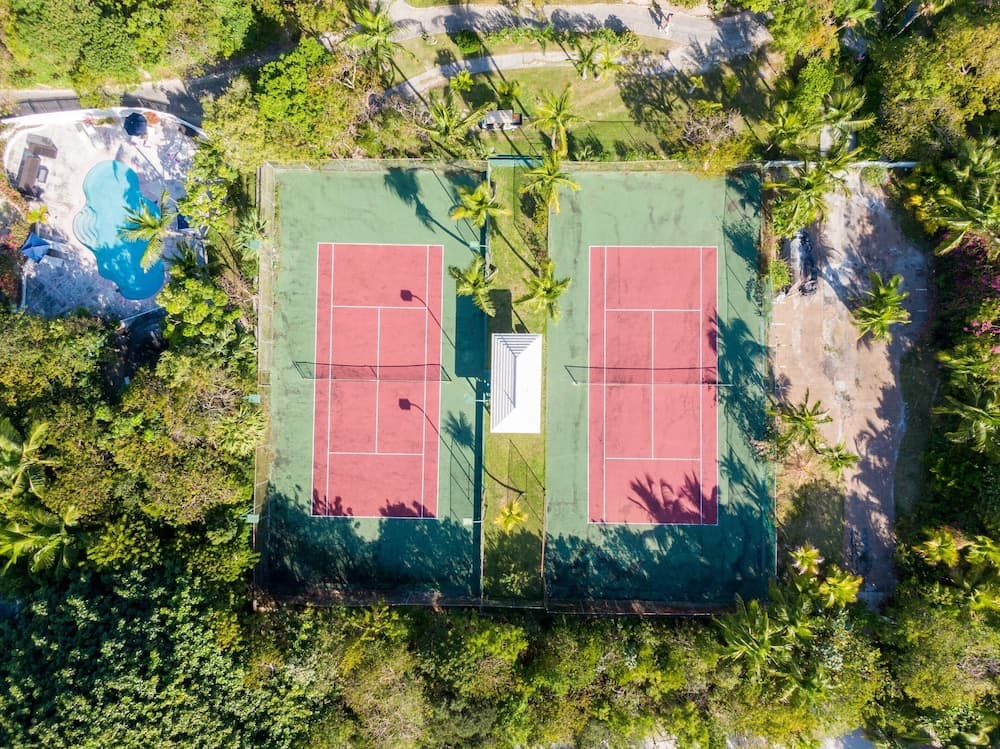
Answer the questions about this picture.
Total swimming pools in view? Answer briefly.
1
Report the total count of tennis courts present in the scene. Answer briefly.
two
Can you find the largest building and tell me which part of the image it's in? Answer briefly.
center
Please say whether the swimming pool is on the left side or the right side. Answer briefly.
left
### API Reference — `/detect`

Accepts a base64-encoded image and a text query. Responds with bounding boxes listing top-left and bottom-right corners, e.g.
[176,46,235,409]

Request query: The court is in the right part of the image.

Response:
[545,171,769,599]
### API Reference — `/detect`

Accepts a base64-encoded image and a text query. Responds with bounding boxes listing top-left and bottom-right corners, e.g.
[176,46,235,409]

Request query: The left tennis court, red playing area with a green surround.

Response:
[267,168,488,595]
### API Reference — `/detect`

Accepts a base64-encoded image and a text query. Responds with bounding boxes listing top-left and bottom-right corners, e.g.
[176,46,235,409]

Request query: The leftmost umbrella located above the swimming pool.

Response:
[124,112,152,139]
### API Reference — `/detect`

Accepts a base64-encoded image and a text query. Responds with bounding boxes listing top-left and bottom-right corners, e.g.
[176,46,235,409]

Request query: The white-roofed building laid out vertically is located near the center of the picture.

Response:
[492,334,542,434]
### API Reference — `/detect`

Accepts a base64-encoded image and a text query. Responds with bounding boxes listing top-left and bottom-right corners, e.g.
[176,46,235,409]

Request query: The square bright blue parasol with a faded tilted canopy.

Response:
[23,233,56,263]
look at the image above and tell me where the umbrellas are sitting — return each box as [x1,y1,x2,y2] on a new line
[23,233,56,263]
[176,212,195,229]
[124,112,152,139]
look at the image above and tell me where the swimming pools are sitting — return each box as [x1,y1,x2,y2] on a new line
[71,156,168,302]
